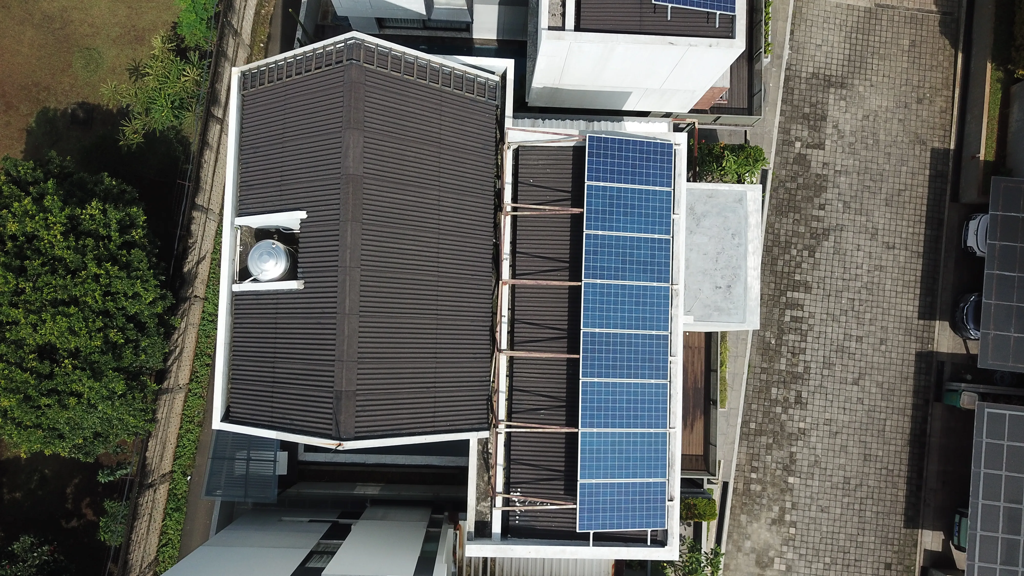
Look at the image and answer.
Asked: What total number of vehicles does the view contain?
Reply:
3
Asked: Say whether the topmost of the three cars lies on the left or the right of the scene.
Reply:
right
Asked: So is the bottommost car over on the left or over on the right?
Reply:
right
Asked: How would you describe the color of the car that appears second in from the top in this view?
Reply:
black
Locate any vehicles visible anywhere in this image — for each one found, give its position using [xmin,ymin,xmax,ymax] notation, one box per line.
[946,506,969,554]
[944,293,983,341]
[959,214,988,260]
